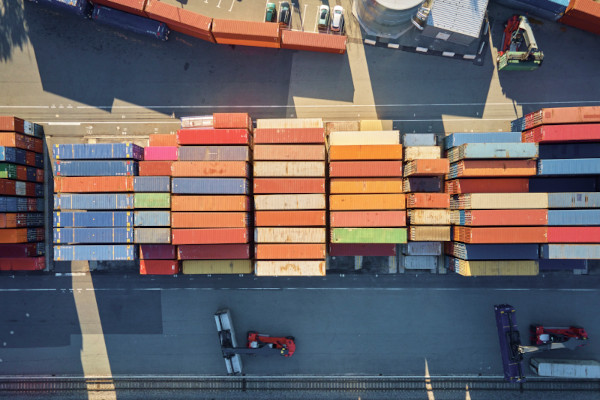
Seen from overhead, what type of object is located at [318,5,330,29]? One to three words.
vehicle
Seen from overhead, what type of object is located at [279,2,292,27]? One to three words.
vehicle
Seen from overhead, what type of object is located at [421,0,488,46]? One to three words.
building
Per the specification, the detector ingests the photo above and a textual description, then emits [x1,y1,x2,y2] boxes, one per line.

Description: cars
[279,2,292,27]
[332,6,345,32]
[265,2,277,23]
[318,5,330,29]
